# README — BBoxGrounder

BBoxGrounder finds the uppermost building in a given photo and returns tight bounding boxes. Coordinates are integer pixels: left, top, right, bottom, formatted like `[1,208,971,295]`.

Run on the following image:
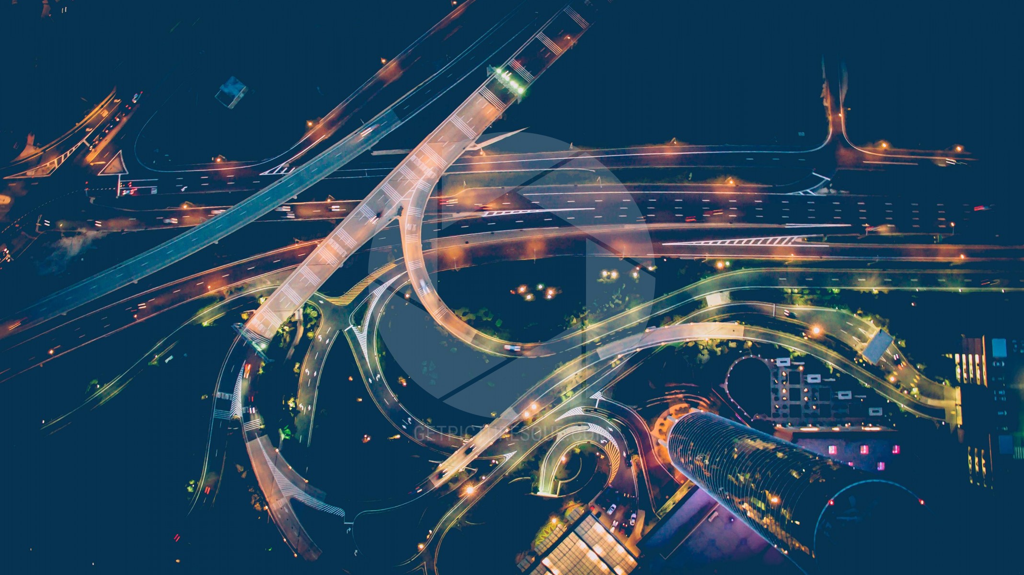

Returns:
[215,76,252,112]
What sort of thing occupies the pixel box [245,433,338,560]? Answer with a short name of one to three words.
bridge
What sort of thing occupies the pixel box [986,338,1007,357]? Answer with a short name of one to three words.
building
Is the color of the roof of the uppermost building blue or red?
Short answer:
blue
